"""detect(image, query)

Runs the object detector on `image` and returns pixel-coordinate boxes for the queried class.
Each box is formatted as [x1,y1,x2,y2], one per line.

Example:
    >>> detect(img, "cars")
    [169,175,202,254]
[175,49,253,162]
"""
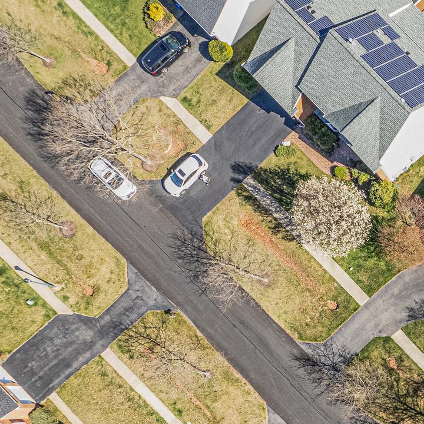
[133,32,193,78]
[164,152,210,197]
[86,157,139,201]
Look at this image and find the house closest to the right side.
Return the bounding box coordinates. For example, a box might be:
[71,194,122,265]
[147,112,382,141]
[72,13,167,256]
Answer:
[234,0,424,181]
